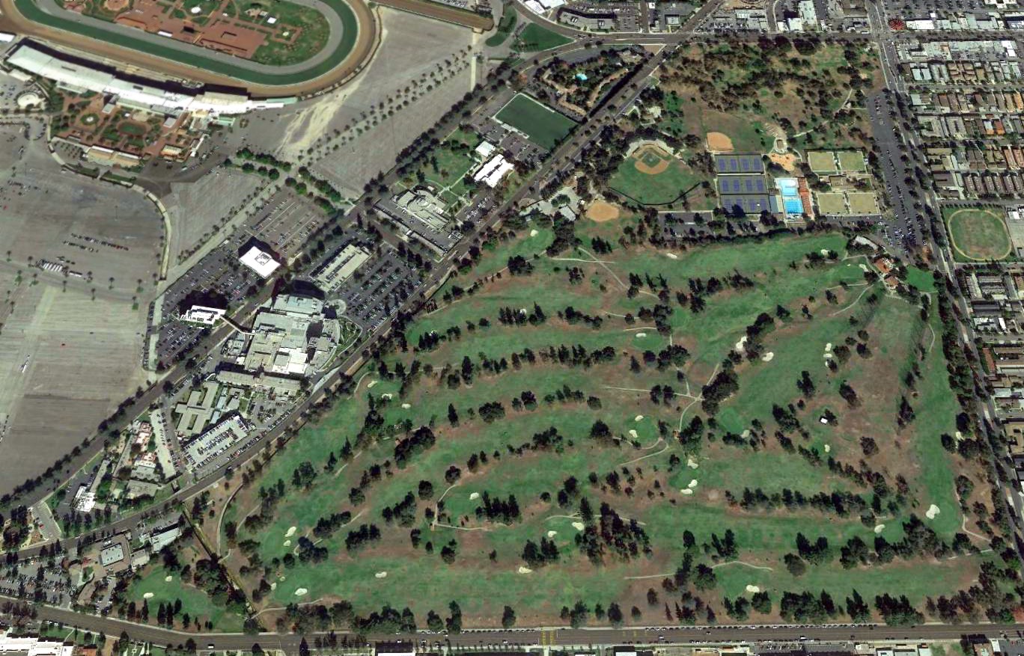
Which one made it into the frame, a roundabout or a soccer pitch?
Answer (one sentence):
The one in the frame is a soccer pitch.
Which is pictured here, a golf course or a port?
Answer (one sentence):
This image shows a golf course.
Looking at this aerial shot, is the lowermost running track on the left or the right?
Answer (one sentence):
It is on the right.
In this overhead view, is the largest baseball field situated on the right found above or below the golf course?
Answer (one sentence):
It's above the golf course that the largest baseball field situated on the right shows up.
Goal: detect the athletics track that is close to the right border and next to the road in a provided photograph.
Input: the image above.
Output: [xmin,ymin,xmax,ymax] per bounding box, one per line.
[945,207,1016,262]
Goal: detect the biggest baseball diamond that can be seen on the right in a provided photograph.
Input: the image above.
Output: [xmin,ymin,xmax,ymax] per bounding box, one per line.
[608,136,701,205]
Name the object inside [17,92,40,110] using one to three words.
building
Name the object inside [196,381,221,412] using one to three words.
house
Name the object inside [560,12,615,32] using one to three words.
building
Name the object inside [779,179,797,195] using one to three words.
swimming pool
